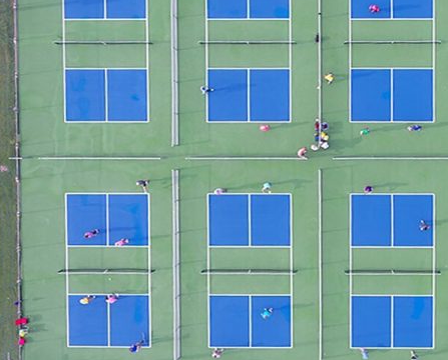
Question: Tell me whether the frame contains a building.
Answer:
No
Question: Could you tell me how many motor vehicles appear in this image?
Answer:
0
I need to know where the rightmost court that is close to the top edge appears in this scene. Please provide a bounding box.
[350,0,434,123]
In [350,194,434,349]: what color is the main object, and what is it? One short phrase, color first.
blue sports court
